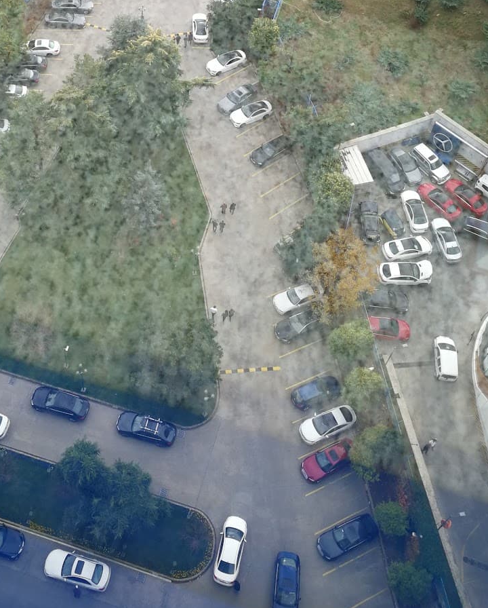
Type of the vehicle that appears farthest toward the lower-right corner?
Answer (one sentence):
From above, the vehicle that appears farthest toward the lower-right corner can be identified as a car.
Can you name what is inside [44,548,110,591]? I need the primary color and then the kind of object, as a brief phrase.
white car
